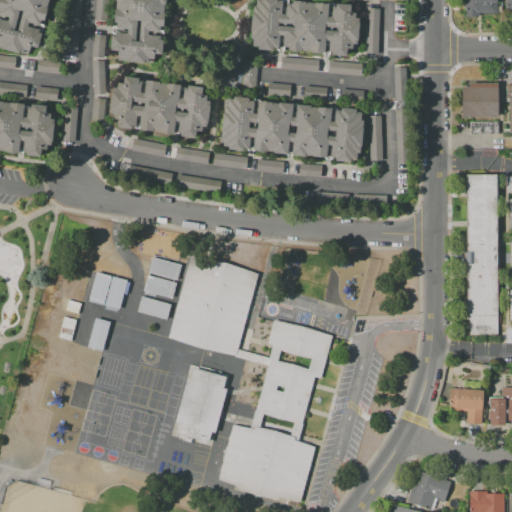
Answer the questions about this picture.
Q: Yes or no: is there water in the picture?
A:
No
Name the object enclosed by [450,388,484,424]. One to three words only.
house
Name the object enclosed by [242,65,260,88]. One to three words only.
building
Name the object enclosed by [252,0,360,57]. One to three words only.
building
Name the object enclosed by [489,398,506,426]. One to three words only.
house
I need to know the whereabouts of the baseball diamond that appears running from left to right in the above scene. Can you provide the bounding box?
[3,480,140,512]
